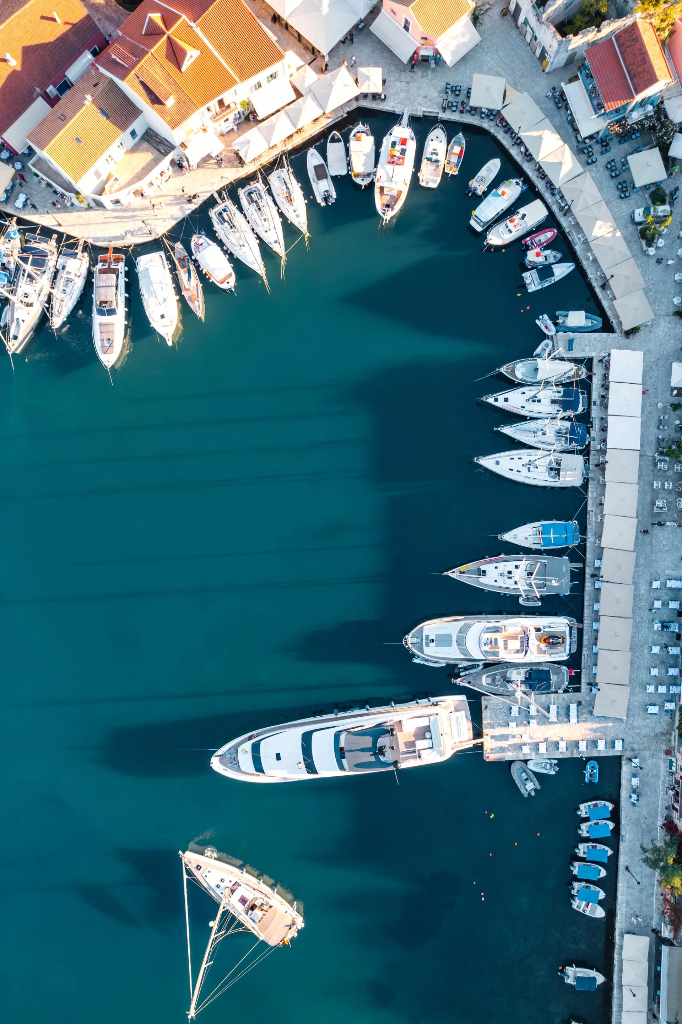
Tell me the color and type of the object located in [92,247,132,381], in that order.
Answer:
white boat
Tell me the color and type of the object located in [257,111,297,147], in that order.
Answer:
white umbrella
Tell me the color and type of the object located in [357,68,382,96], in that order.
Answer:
white umbrella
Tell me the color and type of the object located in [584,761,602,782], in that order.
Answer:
blue boat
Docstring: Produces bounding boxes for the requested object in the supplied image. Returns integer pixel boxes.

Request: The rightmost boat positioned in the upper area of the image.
[556,310,602,333]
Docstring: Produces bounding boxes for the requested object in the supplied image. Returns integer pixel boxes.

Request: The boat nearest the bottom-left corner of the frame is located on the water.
[179,848,302,1018]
